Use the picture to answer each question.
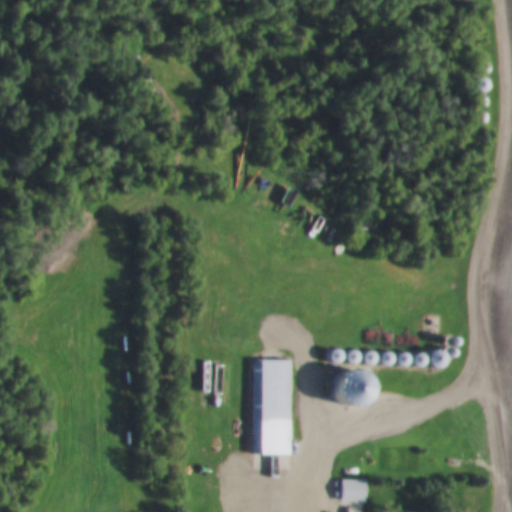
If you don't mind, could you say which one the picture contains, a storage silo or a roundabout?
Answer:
storage silo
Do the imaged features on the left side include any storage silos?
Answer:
No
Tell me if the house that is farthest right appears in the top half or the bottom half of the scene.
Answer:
bottom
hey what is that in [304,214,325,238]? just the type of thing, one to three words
vehicle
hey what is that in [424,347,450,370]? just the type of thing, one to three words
silo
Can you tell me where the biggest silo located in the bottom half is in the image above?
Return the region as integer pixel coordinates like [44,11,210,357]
[330,366,380,407]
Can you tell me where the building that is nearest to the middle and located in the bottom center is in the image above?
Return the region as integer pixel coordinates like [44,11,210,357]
[256,358,293,456]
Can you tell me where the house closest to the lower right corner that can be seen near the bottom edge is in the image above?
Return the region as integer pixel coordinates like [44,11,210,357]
[338,478,370,505]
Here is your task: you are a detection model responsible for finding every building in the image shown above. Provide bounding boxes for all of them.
[338,478,370,505]
[256,358,293,456]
